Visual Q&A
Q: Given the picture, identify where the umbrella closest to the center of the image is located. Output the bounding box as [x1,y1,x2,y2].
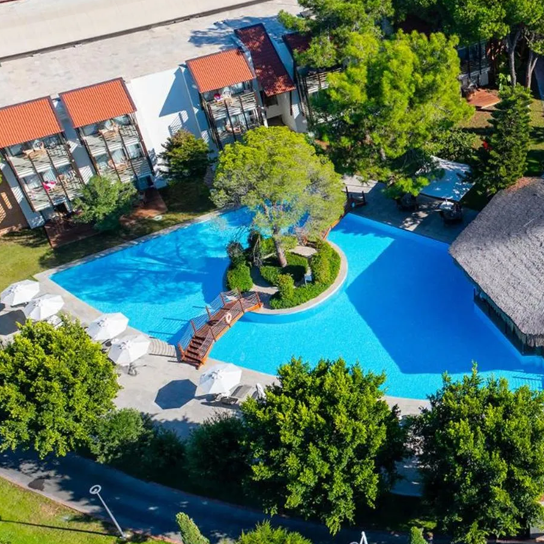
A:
[198,367,243,407]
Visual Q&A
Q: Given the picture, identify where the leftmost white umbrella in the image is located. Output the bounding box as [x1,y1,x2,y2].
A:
[0,284,44,311]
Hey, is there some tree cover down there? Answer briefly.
Yes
